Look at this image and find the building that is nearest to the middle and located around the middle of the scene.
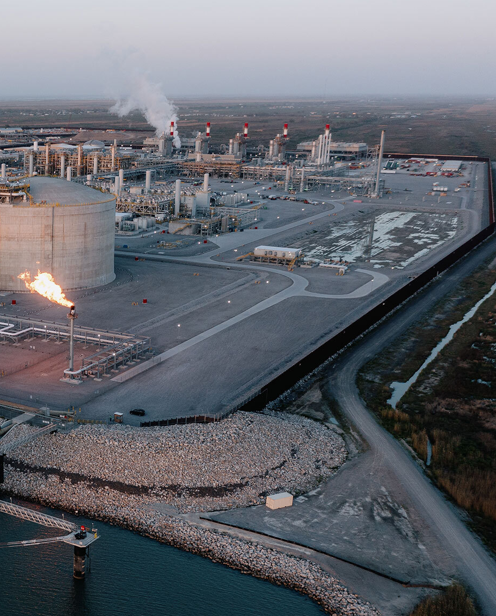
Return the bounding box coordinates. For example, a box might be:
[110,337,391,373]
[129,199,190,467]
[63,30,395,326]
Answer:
[242,243,301,266]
